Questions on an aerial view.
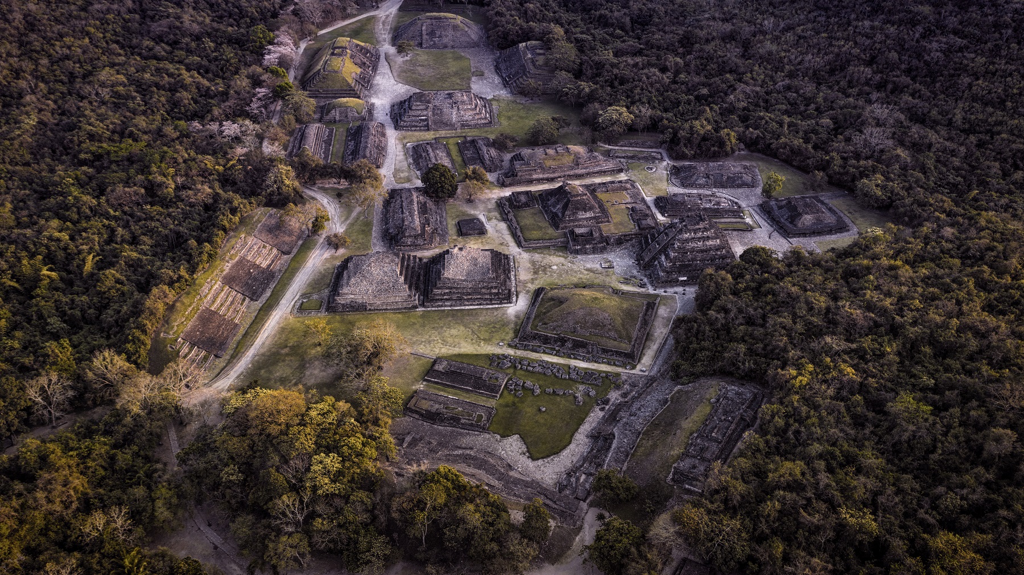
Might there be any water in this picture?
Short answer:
No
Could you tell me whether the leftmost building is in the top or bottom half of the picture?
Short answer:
top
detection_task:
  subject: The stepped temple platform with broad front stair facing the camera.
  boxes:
[396,90,500,132]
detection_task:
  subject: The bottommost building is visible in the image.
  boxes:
[655,184,745,218]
